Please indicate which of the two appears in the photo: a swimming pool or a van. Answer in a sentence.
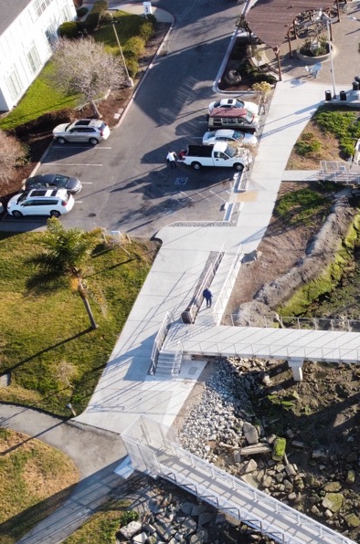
Looking from above, you can make out a van.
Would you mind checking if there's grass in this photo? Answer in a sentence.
Yes, there's grass in this view.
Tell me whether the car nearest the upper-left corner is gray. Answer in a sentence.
Yes, gray is the color of the car nearest the upper-left corner.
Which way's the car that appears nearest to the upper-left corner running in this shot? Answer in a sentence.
The car that appears nearest to the upper-left corner is oriented horizontally.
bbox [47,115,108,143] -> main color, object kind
gray car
